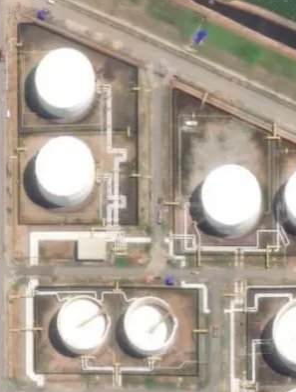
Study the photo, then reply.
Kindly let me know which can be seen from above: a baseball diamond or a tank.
tank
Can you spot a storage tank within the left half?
Yes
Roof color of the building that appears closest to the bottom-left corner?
white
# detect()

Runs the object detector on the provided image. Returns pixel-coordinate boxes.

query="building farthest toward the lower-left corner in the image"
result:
[78,240,106,262]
